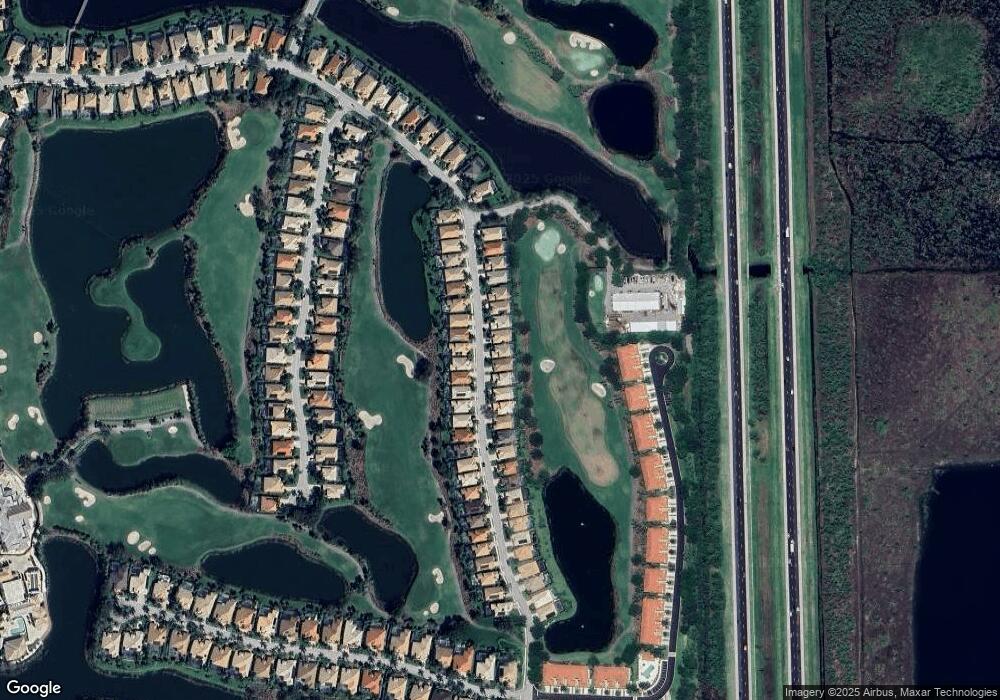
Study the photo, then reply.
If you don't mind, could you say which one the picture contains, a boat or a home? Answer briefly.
home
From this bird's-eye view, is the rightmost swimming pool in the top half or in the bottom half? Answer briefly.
bottom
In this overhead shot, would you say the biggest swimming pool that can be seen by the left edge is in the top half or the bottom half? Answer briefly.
bottom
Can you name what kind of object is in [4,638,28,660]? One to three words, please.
building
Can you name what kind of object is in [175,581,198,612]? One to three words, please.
house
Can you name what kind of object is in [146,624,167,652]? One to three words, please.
house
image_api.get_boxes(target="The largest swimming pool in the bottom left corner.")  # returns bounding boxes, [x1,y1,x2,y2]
[4,615,26,637]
